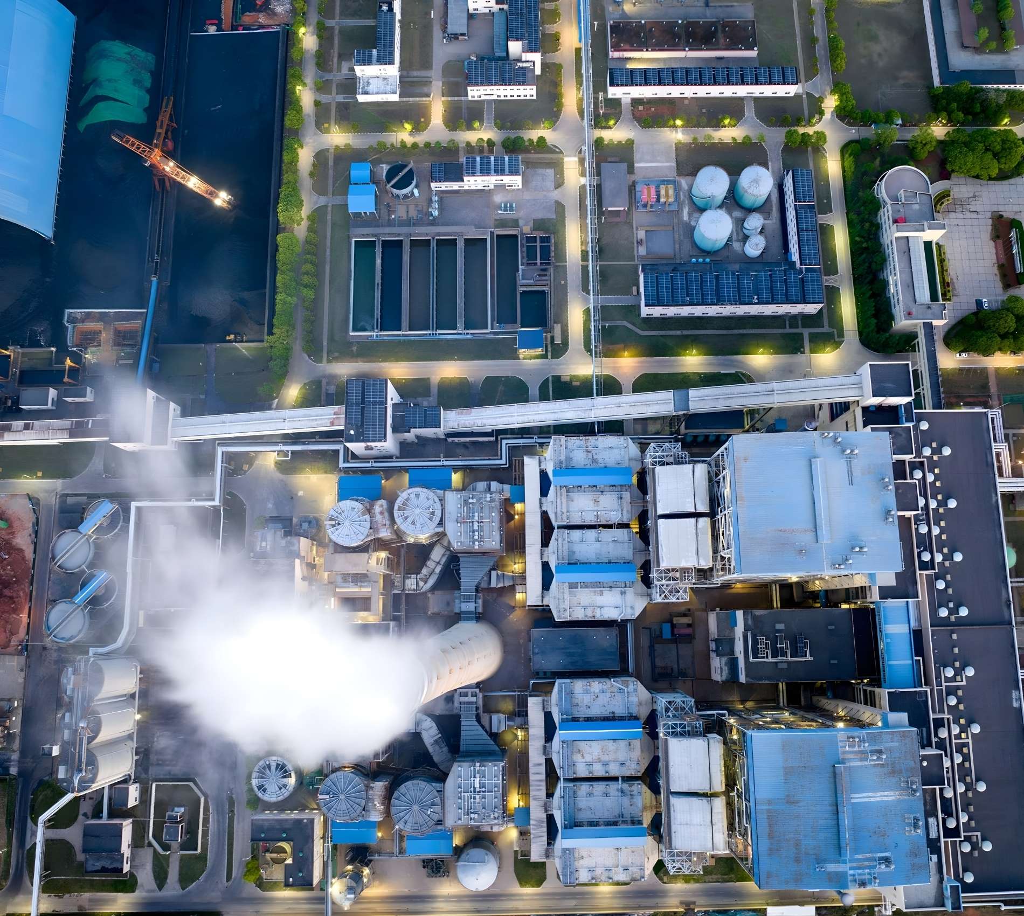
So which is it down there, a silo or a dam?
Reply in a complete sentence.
The image shows a silo.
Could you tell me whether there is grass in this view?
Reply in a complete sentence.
Yes, there is grass in the image.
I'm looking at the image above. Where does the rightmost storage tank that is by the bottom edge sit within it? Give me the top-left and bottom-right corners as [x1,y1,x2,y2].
[455,835,502,895]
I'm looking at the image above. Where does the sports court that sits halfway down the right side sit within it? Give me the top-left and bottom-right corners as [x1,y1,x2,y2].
[1002,393,1024,426]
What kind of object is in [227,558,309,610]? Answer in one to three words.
house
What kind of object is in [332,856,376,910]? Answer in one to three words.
silo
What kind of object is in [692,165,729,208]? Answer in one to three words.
storage tank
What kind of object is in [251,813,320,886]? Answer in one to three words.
building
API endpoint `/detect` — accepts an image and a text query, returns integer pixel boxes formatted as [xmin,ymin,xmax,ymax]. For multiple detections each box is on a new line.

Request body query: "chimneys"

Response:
[359,621,504,714]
